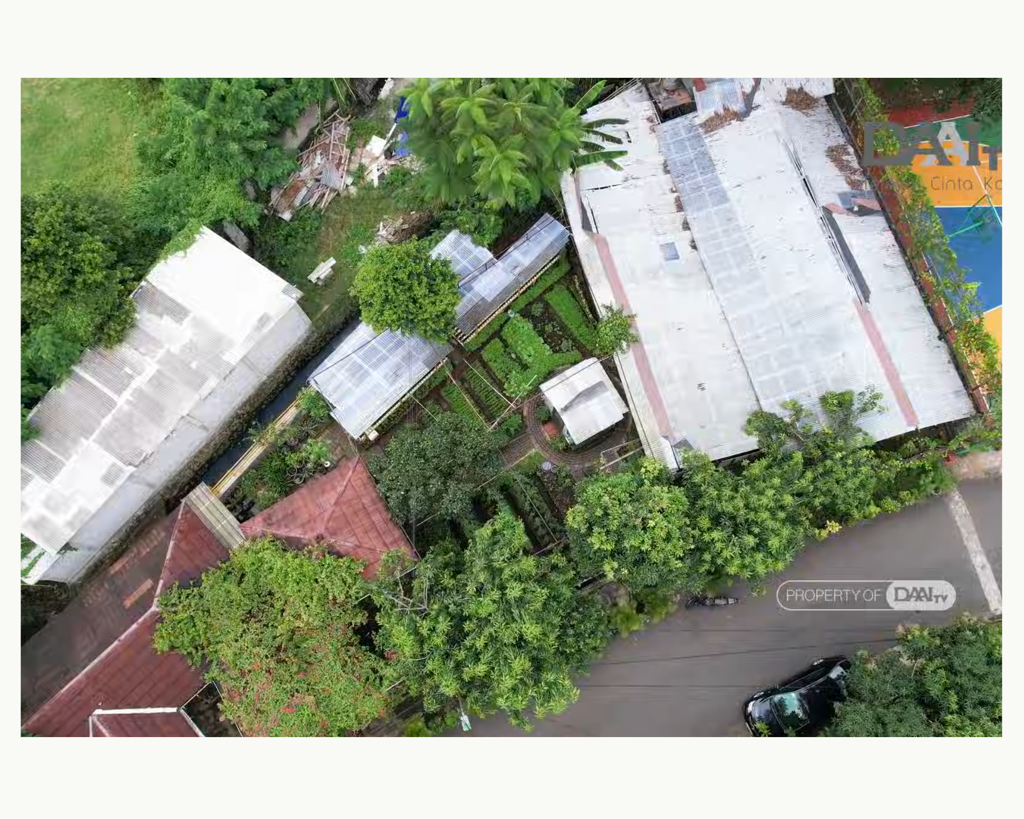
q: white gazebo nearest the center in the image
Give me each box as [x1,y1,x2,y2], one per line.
[541,358,629,444]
